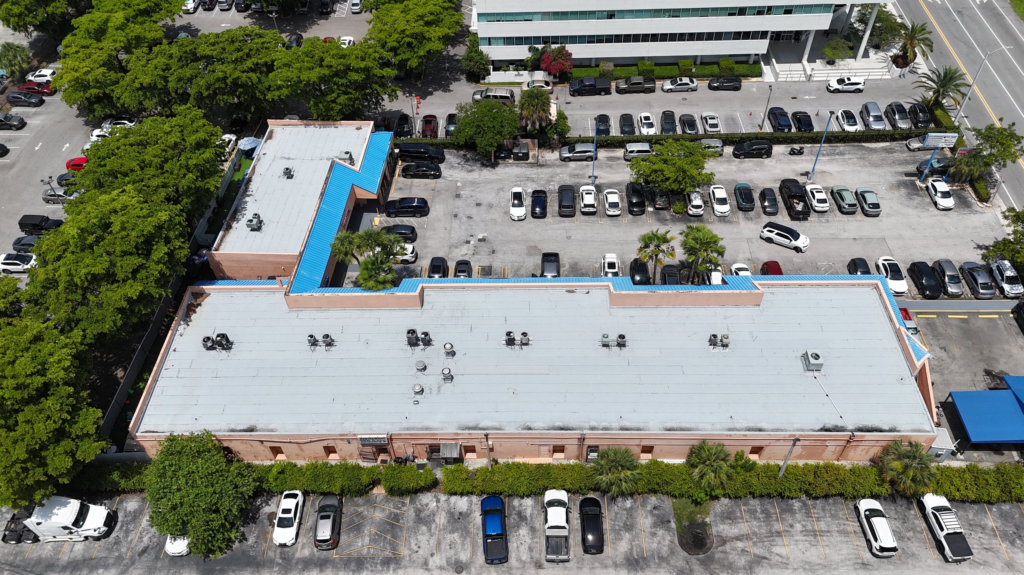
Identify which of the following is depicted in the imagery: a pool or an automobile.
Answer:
automobile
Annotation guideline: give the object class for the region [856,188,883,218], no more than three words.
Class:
car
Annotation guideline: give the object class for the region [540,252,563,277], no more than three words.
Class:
truck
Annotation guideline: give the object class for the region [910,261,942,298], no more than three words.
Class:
car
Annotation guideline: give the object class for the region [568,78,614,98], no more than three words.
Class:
vehicle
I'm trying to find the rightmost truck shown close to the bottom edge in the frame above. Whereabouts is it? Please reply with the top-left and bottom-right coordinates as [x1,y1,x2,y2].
[920,491,978,566]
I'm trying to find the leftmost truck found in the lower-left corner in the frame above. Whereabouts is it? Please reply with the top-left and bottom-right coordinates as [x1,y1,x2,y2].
[2,495,122,545]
